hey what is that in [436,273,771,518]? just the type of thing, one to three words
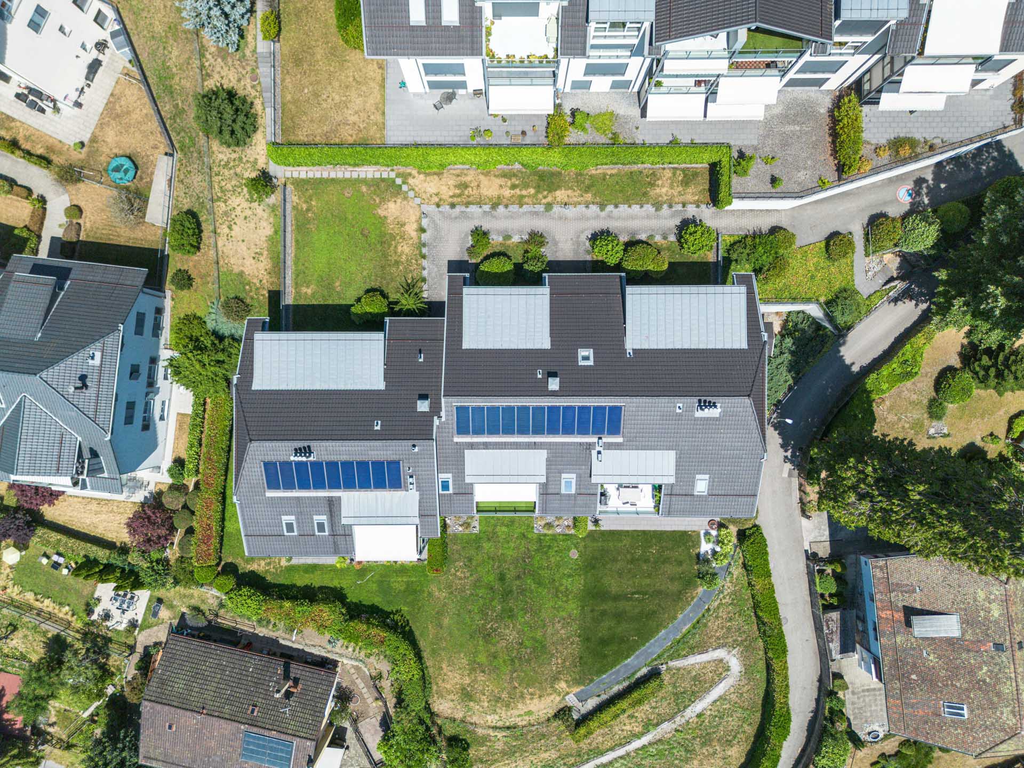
house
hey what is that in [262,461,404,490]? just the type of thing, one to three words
solar array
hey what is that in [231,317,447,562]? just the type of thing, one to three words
house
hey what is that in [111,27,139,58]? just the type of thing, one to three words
shed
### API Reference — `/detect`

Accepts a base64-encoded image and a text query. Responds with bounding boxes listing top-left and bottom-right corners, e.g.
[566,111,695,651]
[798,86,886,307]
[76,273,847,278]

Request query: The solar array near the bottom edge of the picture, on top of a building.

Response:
[241,730,295,768]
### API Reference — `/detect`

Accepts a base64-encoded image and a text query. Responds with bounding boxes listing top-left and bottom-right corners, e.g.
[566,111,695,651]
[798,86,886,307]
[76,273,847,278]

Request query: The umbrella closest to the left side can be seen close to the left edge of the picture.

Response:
[3,544,35,564]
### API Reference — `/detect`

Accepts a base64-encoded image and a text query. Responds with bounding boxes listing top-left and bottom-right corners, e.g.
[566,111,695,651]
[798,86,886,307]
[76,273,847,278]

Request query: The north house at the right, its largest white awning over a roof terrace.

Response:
[778,0,1024,111]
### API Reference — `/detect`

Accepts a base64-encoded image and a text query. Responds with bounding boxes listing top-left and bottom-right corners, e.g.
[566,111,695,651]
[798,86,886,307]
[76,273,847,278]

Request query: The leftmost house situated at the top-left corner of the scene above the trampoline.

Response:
[0,0,123,107]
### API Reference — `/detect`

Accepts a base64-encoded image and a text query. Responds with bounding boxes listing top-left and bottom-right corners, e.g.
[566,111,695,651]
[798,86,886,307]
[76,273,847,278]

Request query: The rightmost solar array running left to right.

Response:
[454,405,624,436]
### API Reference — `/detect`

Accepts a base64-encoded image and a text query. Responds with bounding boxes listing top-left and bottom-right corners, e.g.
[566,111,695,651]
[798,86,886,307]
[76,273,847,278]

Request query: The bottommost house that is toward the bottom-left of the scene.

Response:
[139,633,346,768]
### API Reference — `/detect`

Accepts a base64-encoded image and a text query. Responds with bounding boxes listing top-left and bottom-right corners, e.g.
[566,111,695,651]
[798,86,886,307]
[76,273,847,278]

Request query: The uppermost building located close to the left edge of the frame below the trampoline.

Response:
[0,253,173,494]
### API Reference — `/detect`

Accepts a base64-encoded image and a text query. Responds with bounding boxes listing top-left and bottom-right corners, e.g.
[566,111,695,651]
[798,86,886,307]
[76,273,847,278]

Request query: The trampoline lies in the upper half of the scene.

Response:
[103,152,147,188]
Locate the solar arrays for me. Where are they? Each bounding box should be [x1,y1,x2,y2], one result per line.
[454,405,624,436]
[241,730,295,768]
[262,461,404,490]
